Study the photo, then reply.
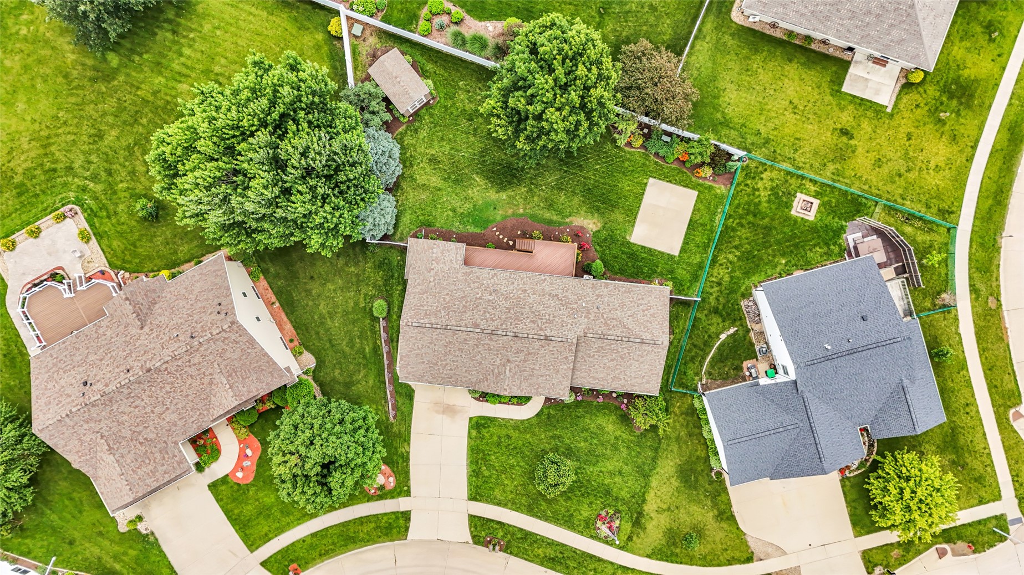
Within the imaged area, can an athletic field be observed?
No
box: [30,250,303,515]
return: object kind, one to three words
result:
house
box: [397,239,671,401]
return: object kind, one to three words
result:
house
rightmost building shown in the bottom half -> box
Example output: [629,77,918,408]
[702,253,947,488]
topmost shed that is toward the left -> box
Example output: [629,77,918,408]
[367,47,432,116]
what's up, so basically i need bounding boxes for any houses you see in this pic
[0,559,37,575]
[397,239,671,401]
[702,253,947,488]
[738,0,956,73]
[30,250,303,515]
